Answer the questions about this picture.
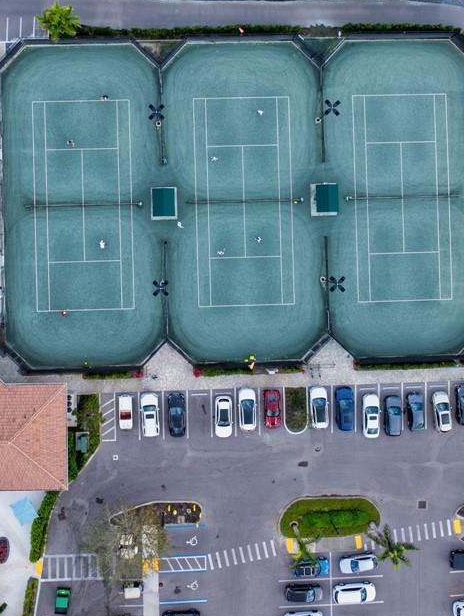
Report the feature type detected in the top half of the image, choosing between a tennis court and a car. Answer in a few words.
tennis court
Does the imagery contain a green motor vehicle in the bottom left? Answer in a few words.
Yes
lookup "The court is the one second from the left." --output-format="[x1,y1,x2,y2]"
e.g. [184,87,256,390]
[159,43,328,366]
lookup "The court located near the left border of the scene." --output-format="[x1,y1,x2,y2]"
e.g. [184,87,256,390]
[1,44,165,370]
